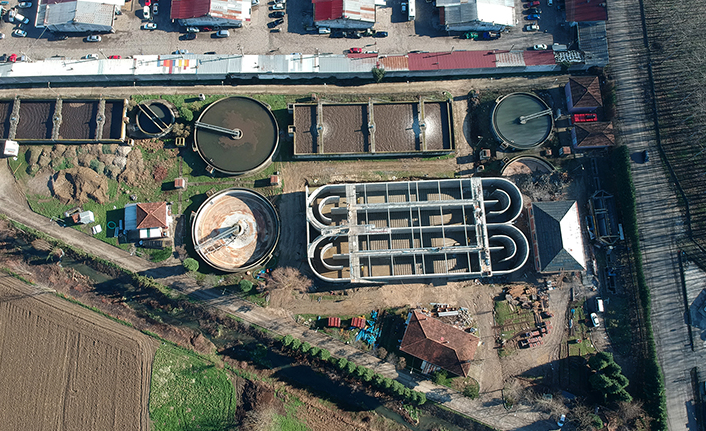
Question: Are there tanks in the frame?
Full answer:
Yes, looking at the shot, I can spot a tank.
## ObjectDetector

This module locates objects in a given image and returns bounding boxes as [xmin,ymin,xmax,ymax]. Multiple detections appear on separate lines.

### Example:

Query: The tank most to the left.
[0,100,132,143]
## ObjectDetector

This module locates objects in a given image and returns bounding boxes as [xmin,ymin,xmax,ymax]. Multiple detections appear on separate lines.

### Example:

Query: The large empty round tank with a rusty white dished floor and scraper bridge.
[188,187,282,276]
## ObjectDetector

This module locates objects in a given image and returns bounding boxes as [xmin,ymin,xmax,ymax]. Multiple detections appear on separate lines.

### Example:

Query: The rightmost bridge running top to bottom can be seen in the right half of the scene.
[470,177,494,277]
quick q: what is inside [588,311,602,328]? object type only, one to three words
vehicle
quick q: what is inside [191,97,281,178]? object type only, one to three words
storage tank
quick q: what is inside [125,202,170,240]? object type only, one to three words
house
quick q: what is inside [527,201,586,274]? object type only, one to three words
building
